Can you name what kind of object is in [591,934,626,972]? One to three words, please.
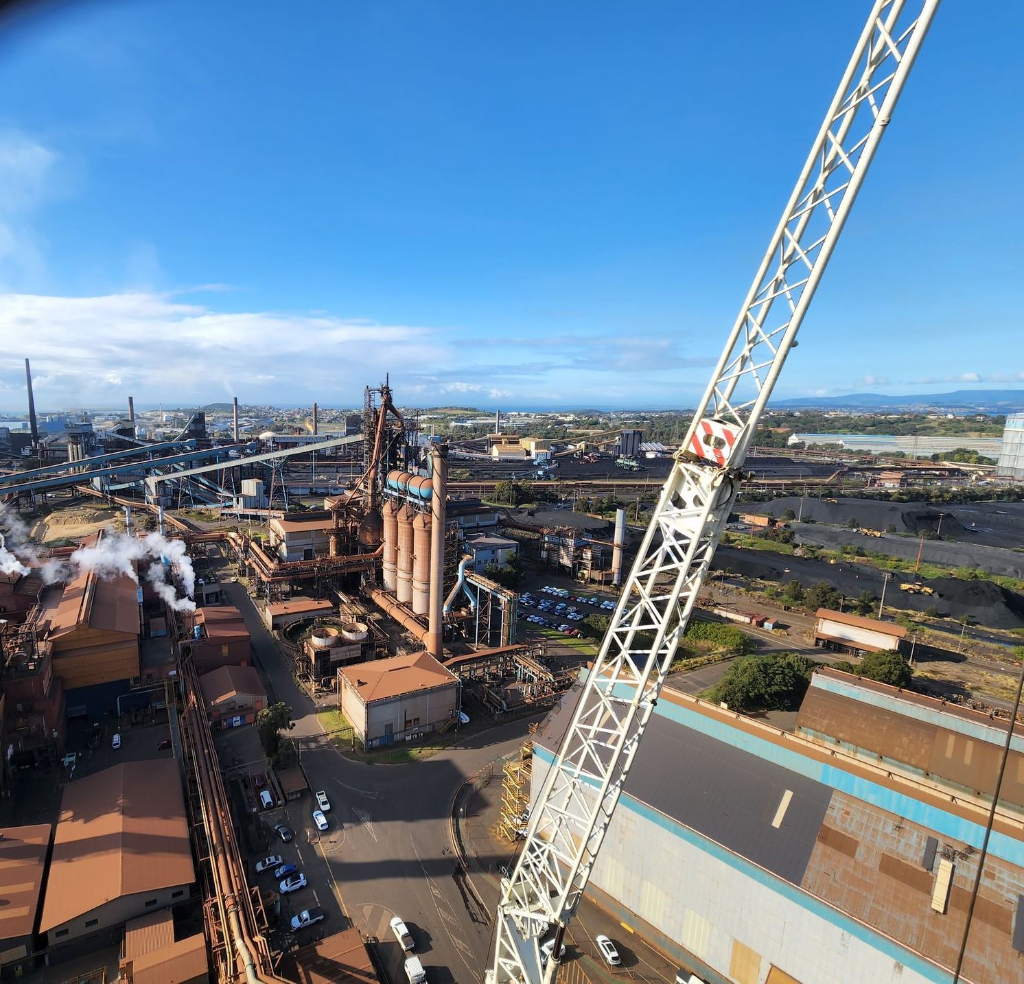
car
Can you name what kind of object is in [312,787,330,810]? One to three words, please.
vehicle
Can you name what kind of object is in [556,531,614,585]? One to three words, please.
house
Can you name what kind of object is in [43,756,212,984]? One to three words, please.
building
